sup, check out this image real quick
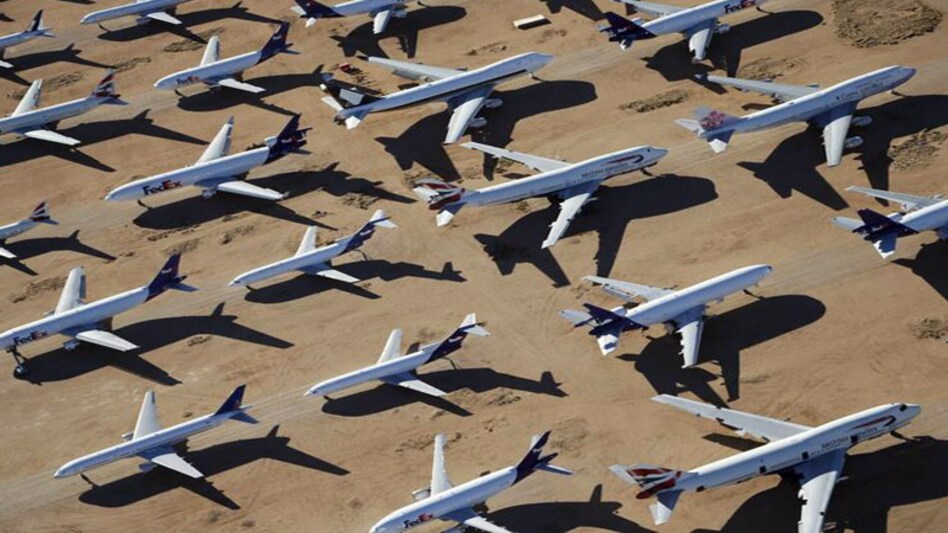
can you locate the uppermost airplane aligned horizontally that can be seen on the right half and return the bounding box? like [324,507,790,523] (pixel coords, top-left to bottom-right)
[600,0,788,61]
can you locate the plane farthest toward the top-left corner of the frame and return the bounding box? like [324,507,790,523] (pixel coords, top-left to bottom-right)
[0,11,56,51]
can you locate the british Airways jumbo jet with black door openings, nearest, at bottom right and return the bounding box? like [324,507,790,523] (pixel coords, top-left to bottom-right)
[607,396,918,533]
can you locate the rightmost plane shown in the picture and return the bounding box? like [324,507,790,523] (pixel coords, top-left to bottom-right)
[830,185,948,257]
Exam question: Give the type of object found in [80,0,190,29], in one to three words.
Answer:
airplane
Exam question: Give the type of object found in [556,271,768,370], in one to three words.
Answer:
airplane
